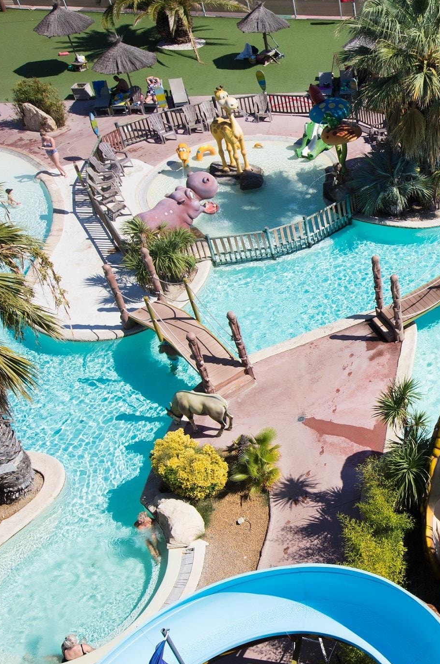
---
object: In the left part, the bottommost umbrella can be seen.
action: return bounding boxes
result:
[88,29,160,87]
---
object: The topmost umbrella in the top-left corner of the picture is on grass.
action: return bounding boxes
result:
[26,1,95,57]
